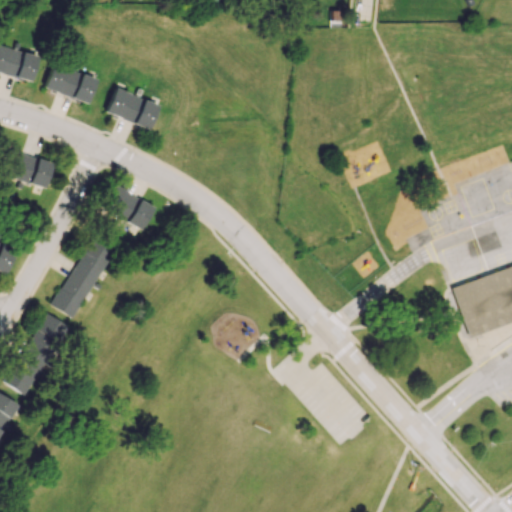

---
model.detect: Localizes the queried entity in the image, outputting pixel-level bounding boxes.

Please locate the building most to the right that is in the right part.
[452,267,512,335]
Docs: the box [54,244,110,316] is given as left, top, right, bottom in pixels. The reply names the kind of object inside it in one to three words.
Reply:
house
